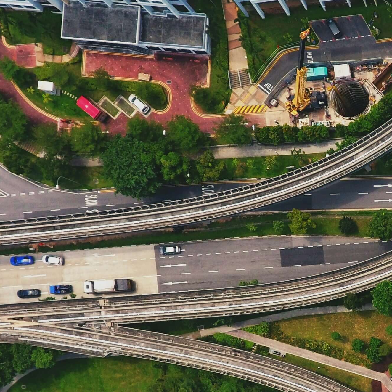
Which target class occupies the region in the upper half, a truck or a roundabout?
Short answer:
truck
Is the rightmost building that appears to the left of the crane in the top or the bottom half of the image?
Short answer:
top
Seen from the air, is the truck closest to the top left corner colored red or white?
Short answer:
red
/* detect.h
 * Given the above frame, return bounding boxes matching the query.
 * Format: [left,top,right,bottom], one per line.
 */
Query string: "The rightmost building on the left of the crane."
[140,10,215,59]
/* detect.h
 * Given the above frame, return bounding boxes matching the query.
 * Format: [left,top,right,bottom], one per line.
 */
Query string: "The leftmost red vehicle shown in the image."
[68,91,106,124]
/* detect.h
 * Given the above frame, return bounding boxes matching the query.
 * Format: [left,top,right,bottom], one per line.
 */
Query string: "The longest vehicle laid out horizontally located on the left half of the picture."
[79,279,132,293]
